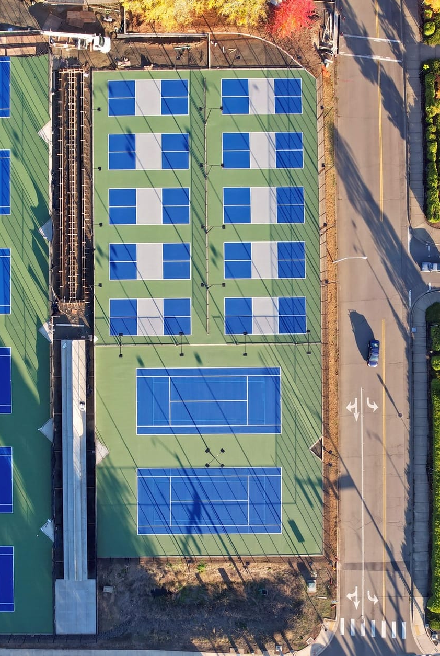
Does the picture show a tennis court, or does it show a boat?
tennis court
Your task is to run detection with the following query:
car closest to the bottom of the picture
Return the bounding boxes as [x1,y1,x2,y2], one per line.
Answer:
[364,338,380,368]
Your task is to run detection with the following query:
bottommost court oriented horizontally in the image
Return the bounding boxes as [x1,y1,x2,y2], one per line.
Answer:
[137,467,282,534]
